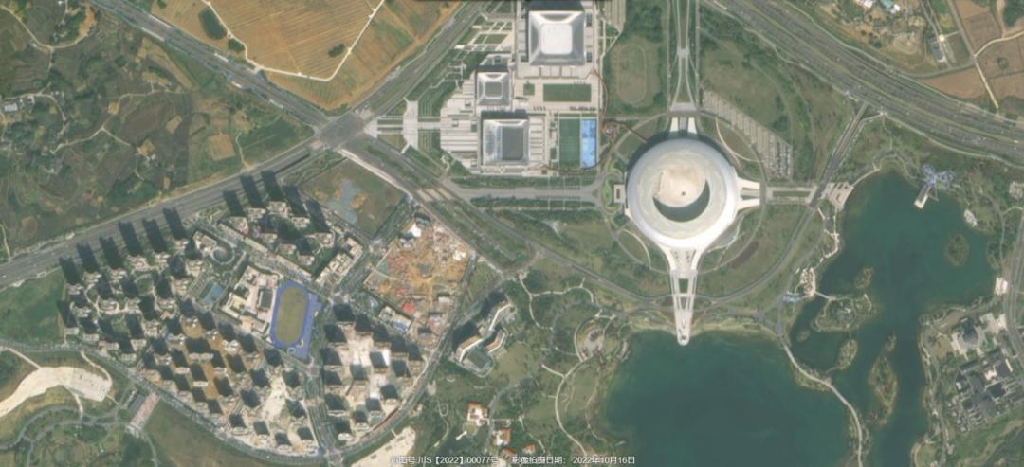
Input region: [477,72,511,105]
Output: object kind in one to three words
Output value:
building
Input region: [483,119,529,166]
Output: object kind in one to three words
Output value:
building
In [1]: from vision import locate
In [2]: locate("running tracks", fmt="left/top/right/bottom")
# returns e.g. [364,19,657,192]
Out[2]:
[269,278,323,359]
